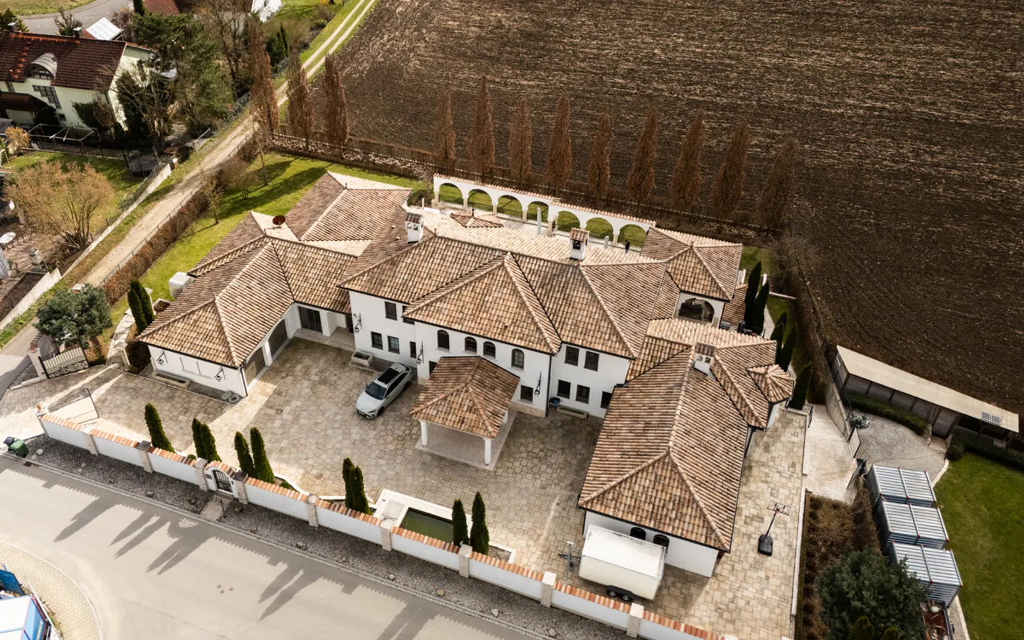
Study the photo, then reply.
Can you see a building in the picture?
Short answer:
Yes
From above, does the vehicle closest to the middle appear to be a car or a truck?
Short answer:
car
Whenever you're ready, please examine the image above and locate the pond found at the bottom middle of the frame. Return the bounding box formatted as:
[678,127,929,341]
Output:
[367,485,474,549]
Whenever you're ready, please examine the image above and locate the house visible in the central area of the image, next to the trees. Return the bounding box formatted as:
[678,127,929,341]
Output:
[132,169,796,577]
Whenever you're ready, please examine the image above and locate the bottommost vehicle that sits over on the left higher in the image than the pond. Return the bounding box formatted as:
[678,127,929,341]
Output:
[354,360,415,421]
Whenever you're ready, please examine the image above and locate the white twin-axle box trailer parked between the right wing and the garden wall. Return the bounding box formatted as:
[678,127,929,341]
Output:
[550,525,667,599]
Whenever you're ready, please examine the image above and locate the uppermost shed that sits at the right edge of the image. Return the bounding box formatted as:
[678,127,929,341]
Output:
[833,347,1019,451]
